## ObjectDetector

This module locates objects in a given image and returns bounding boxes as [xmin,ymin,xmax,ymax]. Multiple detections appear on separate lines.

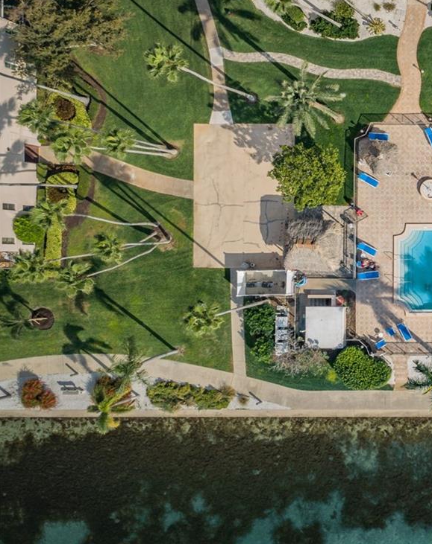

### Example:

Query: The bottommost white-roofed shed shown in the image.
[306,308,350,347]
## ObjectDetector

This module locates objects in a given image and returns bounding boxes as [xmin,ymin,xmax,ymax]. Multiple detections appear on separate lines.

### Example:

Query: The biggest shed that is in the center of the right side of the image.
[281,212,349,282]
